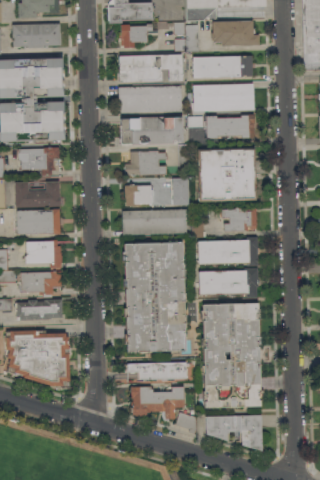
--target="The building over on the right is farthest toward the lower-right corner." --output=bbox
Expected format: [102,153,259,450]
[207,416,262,450]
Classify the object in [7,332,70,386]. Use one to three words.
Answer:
building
